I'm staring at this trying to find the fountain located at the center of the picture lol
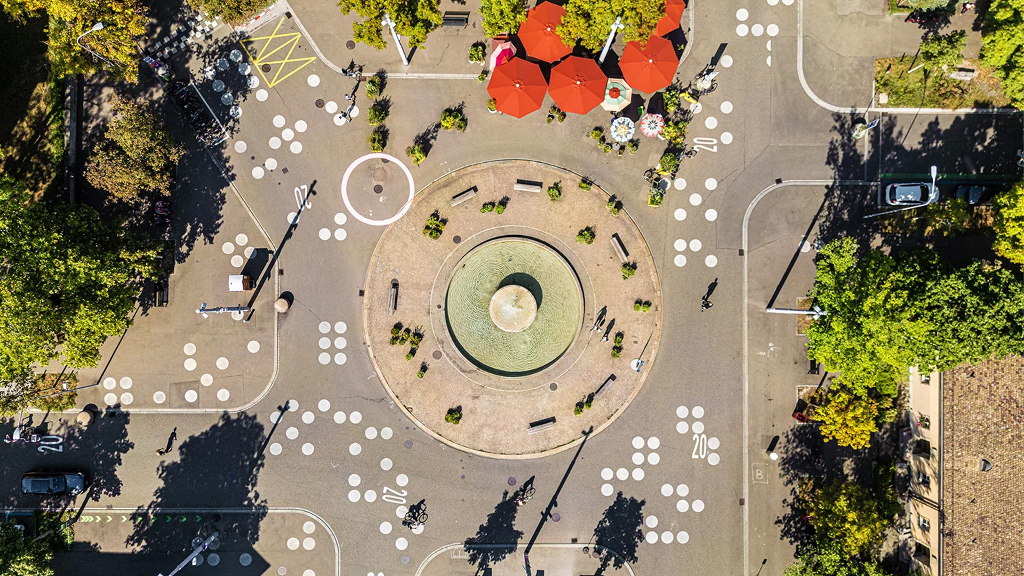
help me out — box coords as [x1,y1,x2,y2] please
[443,237,584,379]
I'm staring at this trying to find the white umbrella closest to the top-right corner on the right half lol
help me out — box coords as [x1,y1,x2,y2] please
[639,115,663,139]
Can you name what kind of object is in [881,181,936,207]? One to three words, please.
car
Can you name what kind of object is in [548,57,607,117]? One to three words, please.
umbrella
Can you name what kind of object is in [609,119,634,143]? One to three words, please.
umbrella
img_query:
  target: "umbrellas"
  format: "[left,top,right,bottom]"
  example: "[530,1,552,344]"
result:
[602,82,631,110]
[639,115,663,139]
[518,3,578,63]
[618,36,679,96]
[487,43,519,71]
[487,58,547,119]
[638,0,689,35]
[548,57,607,117]
[609,119,634,143]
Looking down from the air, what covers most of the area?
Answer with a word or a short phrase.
paved ground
